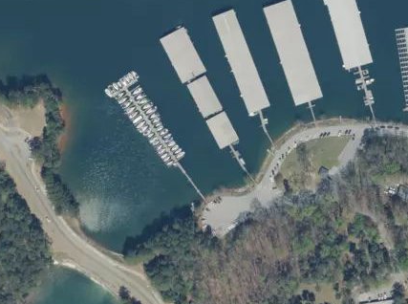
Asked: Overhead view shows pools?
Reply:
No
